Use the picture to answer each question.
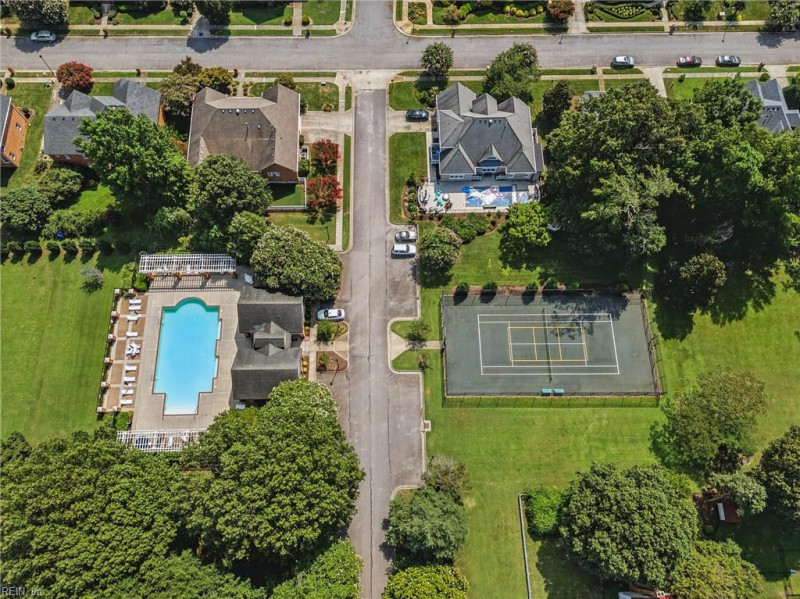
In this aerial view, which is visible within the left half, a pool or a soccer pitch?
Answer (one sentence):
The feature located within the left half is a pool.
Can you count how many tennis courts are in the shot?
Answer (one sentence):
I count just 1 tennis court.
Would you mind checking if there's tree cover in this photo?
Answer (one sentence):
Yes, the picture does contain tree cover.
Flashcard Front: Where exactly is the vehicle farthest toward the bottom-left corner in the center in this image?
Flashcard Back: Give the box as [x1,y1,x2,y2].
[316,308,345,320]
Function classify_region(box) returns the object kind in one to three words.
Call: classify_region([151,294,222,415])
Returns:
swimming pool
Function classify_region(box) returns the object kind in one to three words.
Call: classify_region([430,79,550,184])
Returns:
house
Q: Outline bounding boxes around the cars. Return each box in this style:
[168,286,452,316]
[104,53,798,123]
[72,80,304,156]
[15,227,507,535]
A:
[610,56,634,68]
[716,57,740,68]
[391,244,416,255]
[316,308,345,320]
[677,57,701,68]
[405,110,428,121]
[31,31,56,43]
[395,230,416,241]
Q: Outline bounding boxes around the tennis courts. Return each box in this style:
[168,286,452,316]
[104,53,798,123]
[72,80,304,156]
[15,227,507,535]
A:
[442,292,659,398]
